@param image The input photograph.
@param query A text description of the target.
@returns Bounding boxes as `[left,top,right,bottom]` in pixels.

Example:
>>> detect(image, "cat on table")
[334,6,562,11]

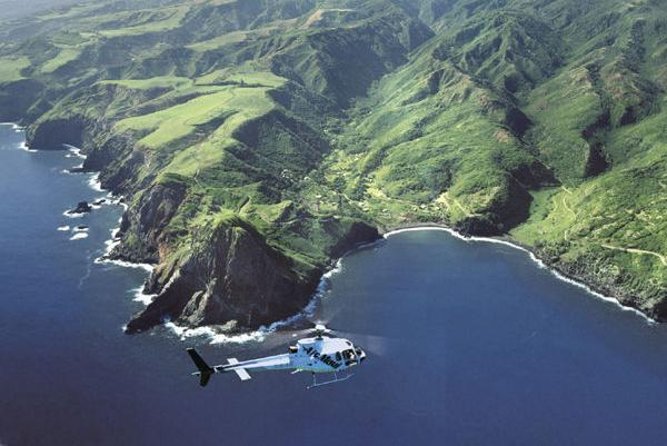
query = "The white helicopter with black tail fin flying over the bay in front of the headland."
[184,285,408,388]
